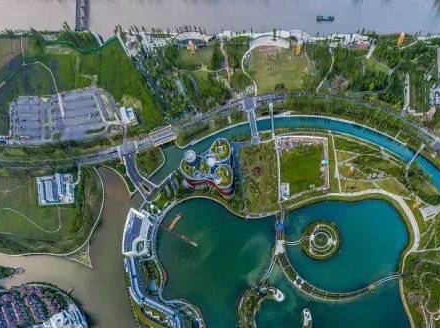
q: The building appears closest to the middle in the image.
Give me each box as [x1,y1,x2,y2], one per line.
[181,138,236,193]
